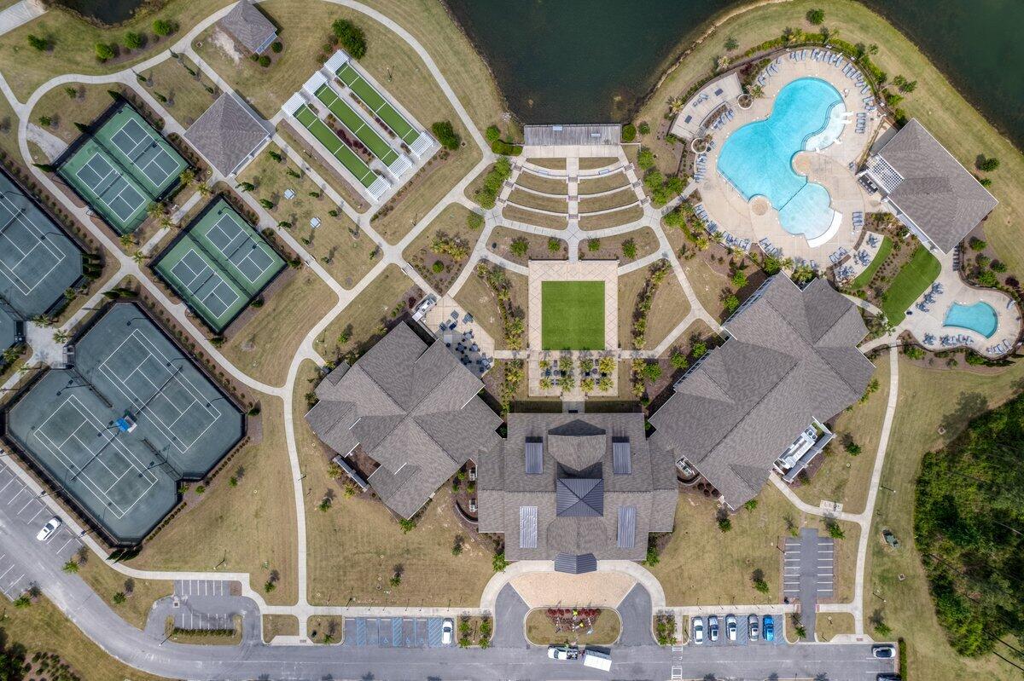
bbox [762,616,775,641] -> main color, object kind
blue vehicle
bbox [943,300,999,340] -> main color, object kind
blue swimming pool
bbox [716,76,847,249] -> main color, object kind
blue swimming pool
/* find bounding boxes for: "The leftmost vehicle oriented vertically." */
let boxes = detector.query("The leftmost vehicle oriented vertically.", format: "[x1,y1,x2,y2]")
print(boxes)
[441,620,453,645]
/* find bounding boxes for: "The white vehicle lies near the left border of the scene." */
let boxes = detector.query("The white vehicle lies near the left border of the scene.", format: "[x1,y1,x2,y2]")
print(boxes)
[36,517,62,541]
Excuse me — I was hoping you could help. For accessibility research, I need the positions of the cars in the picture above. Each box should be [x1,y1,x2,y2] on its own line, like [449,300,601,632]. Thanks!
[36,517,62,541]
[762,616,775,641]
[725,615,737,641]
[692,618,703,644]
[871,645,894,658]
[441,620,453,645]
[707,616,719,641]
[747,615,759,641]
[875,673,900,681]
